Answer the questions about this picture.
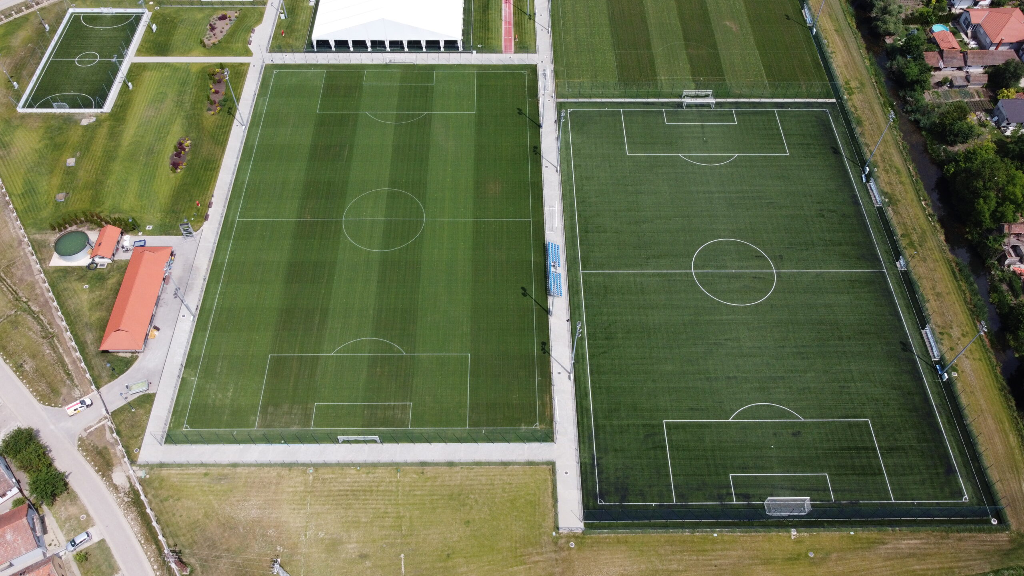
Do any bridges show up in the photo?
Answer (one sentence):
No, the frame has no bridge in it.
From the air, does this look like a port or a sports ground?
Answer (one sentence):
It's a sports ground.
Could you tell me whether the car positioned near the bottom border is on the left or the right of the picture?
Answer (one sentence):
The car positioned near the bottom border appears in the left half of the scene.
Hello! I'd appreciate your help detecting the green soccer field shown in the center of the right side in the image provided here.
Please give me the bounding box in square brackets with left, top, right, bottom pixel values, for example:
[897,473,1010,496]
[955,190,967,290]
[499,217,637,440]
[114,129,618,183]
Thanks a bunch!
[557,101,991,519]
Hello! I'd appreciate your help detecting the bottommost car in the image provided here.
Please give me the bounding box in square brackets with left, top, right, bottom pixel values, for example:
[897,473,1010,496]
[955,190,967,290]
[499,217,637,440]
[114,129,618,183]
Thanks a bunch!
[63,532,91,552]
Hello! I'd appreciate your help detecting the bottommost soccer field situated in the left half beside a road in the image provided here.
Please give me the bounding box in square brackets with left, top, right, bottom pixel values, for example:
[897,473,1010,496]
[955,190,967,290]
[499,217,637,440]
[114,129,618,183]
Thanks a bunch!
[164,63,553,444]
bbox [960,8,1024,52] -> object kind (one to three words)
house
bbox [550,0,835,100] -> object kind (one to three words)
soccer field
